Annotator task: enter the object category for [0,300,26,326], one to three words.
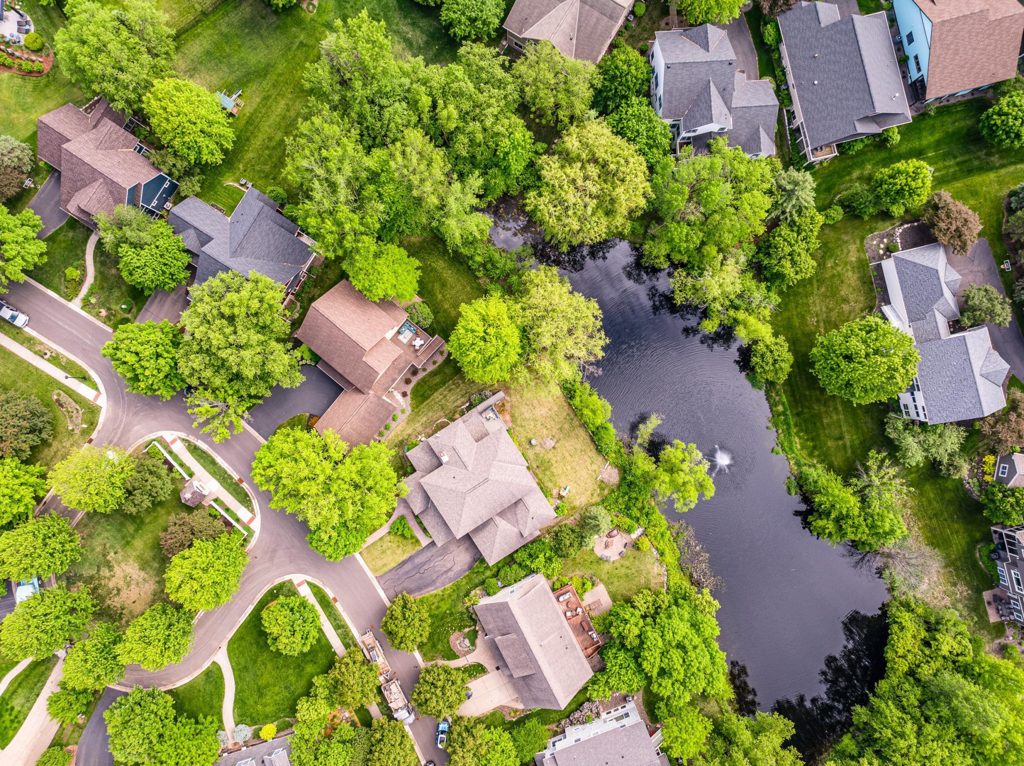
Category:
car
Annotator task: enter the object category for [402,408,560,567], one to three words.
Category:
house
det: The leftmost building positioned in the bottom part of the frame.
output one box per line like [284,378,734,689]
[181,476,218,508]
